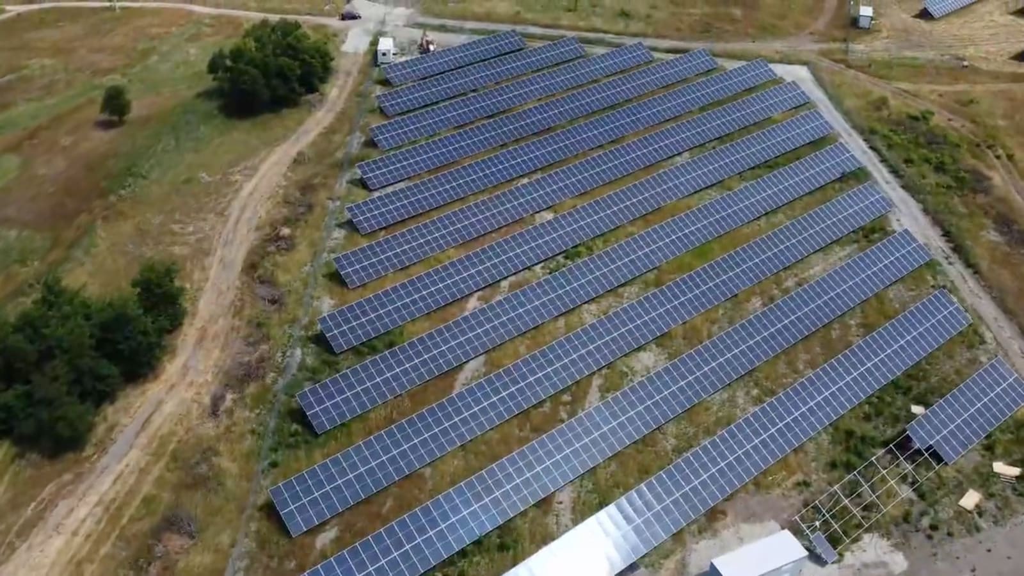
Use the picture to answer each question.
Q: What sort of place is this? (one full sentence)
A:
The picture captures a solar farm.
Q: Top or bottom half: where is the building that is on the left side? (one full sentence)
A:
Seen from above, the building that is on the left side lies in the top half of the view.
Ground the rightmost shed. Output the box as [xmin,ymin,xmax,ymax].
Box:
[858,4,874,27]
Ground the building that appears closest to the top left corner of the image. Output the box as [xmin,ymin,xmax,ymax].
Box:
[377,36,398,62]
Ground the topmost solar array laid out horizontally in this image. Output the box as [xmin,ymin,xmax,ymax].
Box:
[921,0,981,21]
